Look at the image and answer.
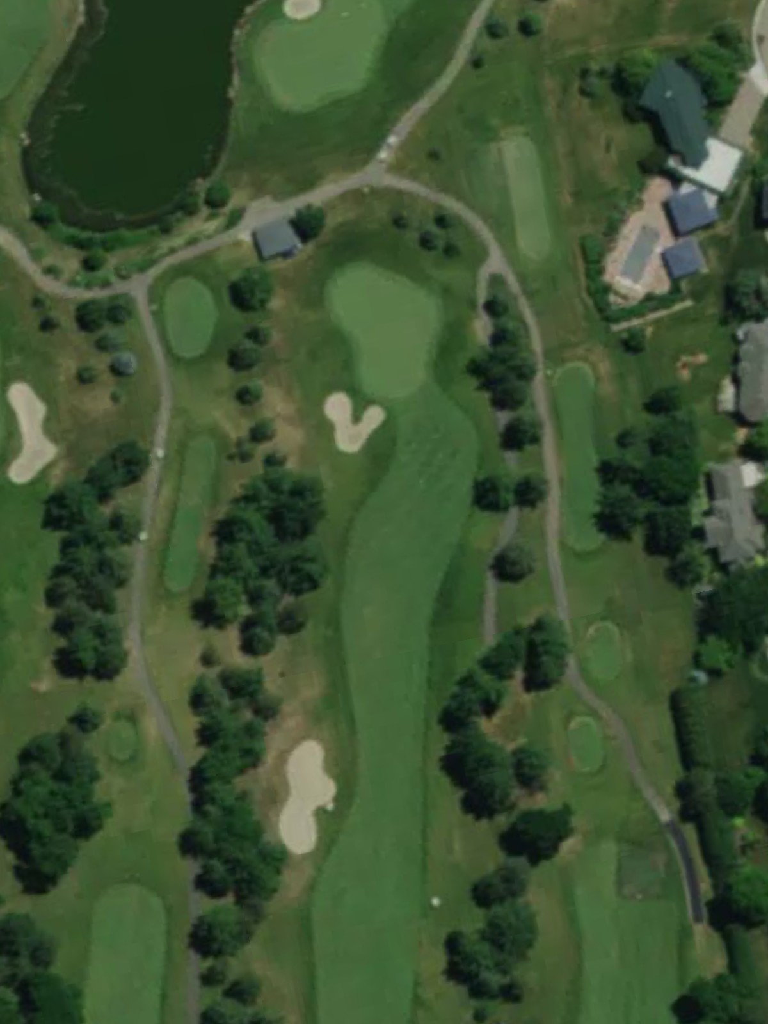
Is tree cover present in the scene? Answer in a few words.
Yes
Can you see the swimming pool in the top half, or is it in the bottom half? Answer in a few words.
top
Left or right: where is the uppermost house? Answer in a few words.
right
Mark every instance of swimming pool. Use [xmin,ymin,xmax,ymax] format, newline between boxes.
[620,224,661,284]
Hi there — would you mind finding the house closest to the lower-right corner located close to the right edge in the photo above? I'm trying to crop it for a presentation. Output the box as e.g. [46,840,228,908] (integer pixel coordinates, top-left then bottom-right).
[706,464,766,562]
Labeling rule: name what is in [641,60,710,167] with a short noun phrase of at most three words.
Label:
house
